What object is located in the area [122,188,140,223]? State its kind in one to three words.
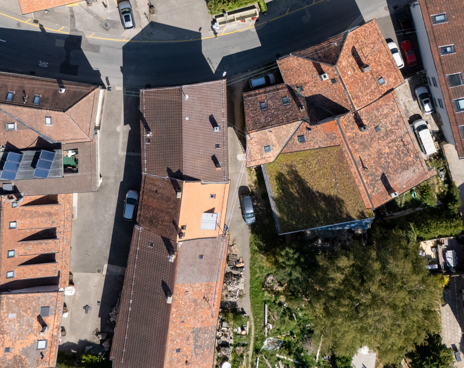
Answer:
car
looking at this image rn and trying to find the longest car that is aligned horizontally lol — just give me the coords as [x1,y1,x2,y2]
[248,73,277,90]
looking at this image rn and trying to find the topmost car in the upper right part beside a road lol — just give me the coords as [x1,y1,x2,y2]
[392,3,409,34]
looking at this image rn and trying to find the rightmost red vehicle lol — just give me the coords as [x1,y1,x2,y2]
[400,41,420,74]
